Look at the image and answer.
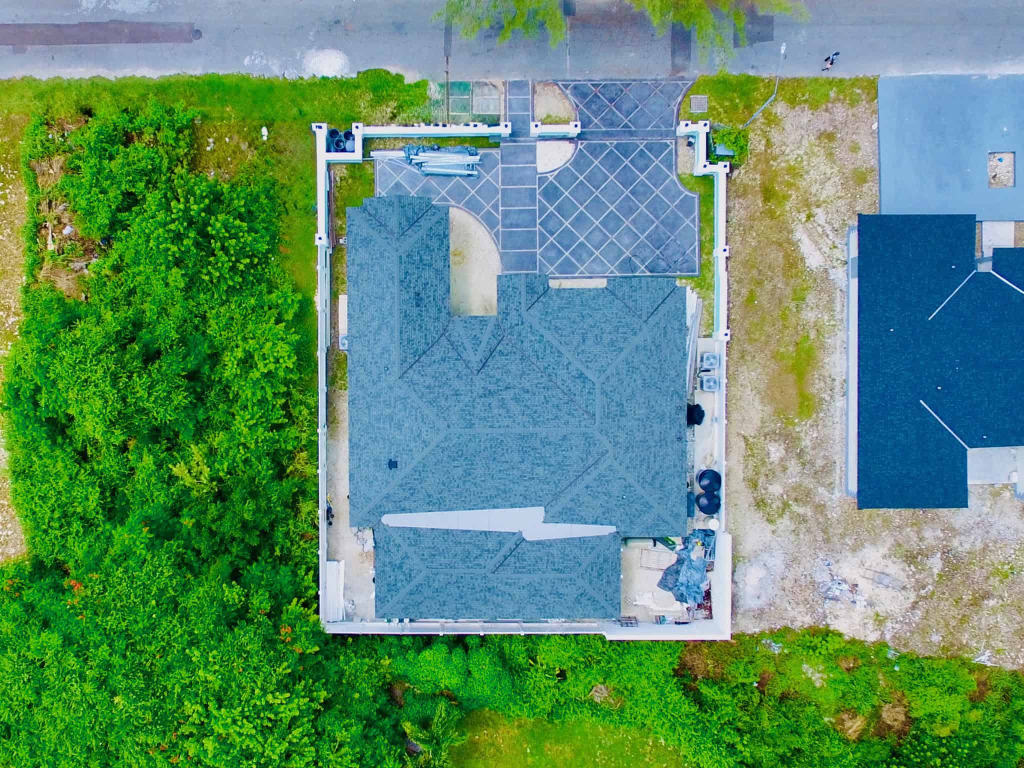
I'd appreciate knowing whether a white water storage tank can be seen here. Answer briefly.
No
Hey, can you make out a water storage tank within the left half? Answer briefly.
No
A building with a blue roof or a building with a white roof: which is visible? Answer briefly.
building with a blue roof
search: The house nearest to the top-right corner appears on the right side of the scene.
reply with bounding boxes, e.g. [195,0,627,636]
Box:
[847,215,1024,508]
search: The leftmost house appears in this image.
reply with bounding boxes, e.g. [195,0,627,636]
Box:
[346,195,686,619]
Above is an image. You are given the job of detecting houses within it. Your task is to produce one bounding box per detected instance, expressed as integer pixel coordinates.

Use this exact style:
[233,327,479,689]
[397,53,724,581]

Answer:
[346,195,686,619]
[847,215,1024,508]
